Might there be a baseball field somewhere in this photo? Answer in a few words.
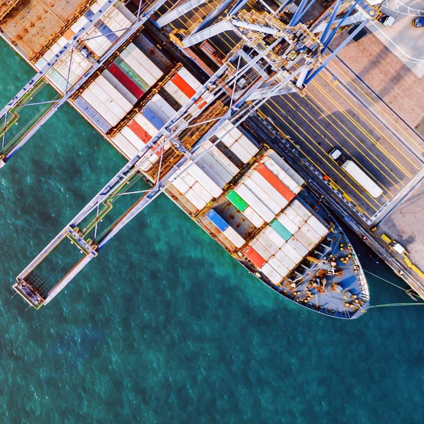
No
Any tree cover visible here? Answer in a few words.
No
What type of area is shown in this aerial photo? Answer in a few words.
port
